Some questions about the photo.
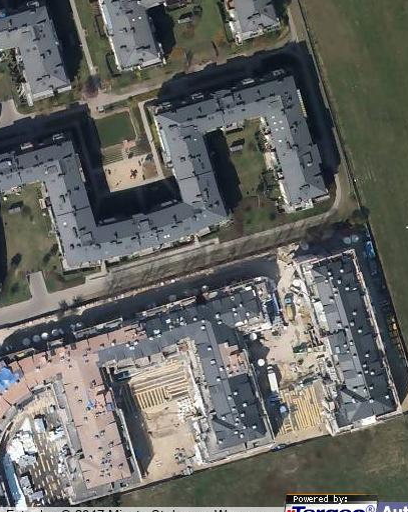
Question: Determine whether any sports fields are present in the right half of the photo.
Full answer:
No, looking in the right half of the photo, there is no sports field.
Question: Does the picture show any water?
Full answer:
No, no water is visible.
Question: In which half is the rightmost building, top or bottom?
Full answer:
The rightmost building is in the bottom half of the image.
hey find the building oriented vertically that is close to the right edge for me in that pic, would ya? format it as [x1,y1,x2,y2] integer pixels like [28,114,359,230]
[296,252,402,437]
